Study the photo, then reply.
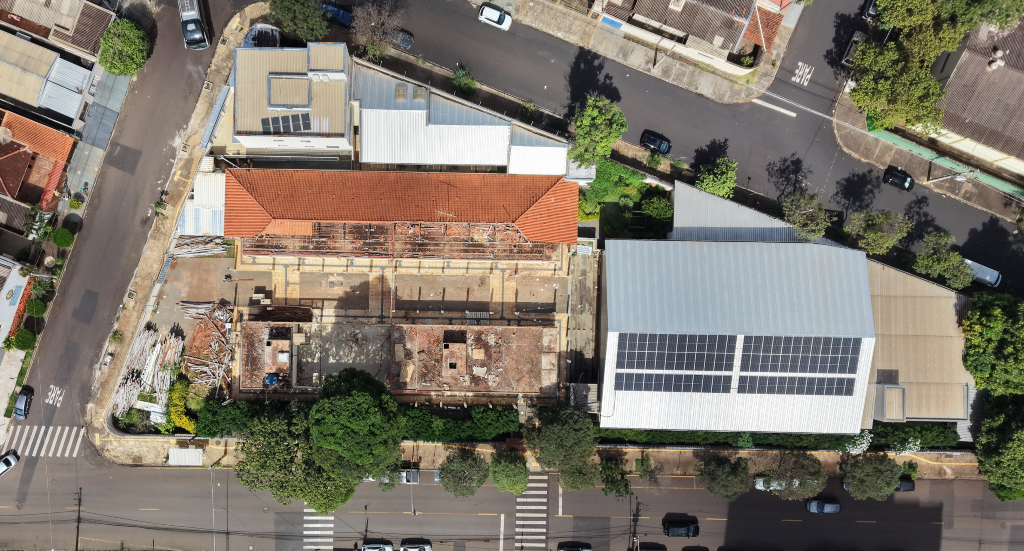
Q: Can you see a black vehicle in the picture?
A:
Yes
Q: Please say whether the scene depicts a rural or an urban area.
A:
urban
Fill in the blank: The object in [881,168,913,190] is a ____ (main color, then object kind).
black car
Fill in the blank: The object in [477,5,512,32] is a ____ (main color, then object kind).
white car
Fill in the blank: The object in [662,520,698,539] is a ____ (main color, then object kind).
black car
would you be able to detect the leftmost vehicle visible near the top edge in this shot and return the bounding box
[180,0,217,55]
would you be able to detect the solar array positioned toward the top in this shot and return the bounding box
[261,113,311,134]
